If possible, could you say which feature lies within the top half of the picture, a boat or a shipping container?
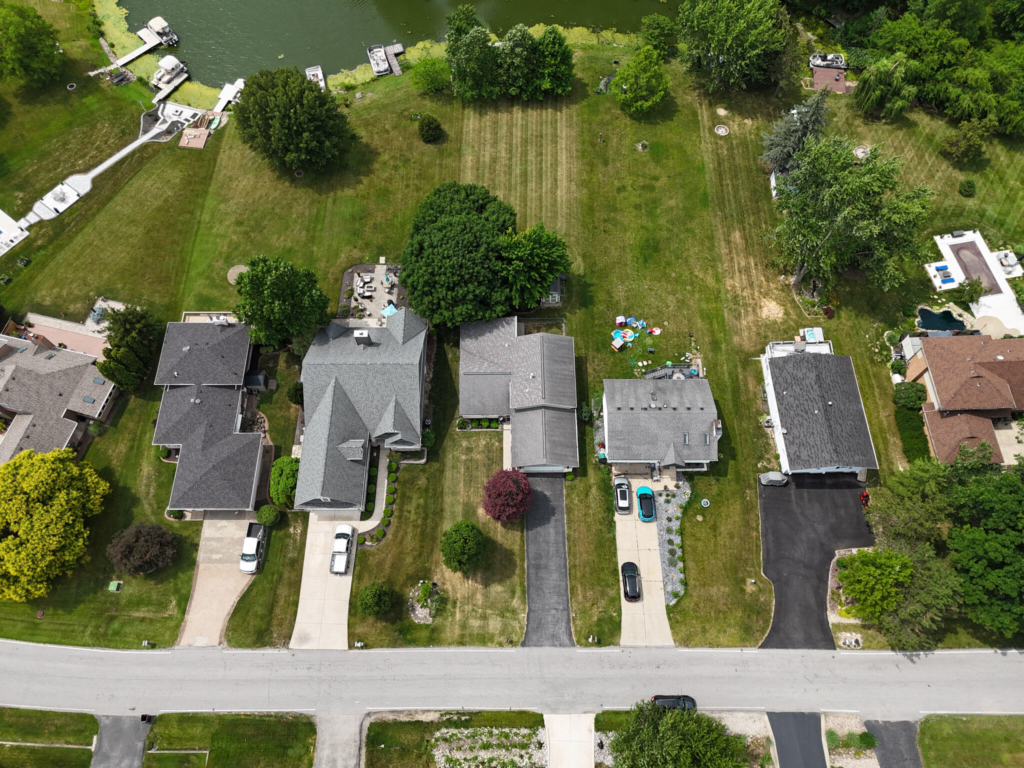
boat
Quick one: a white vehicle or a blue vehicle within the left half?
white vehicle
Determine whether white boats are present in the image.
Yes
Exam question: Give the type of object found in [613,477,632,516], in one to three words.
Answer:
car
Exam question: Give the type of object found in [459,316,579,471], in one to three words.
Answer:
house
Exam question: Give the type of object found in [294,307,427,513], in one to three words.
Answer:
house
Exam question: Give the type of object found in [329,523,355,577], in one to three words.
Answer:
truck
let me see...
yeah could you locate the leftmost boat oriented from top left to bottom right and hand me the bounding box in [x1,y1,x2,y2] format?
[145,13,180,50]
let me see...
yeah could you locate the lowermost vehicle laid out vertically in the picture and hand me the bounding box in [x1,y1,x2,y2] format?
[620,560,642,605]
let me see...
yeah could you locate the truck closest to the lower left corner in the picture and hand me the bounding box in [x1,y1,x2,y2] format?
[240,521,267,575]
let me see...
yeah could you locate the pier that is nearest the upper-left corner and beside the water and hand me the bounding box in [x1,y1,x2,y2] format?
[115,27,163,69]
